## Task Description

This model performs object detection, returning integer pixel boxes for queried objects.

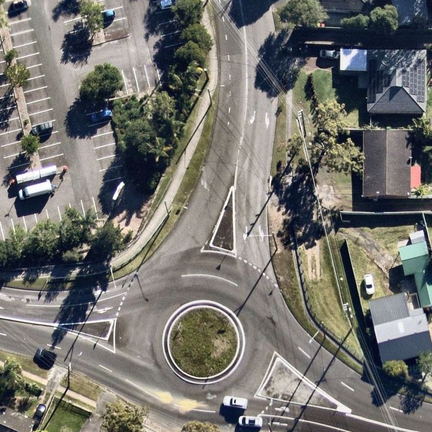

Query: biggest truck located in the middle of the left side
[19,178,54,201]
